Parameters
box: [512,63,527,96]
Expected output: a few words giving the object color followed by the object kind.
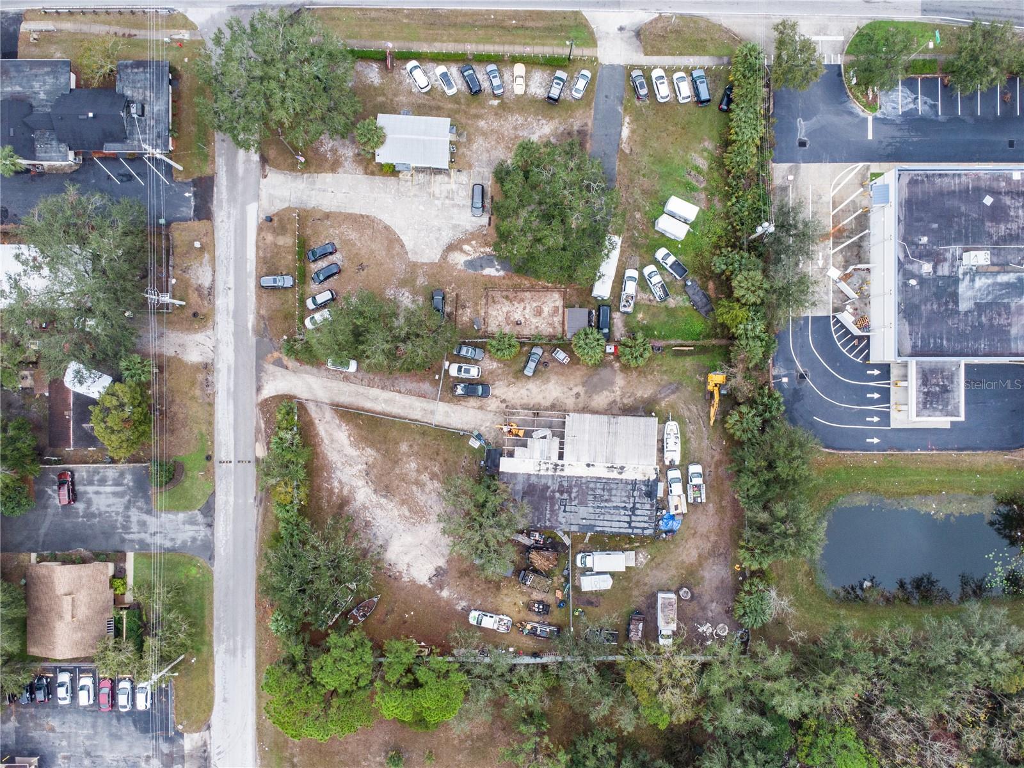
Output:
white car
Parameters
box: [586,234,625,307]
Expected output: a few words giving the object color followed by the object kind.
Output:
white trailer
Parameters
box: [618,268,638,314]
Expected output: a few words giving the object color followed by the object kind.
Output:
white vehicle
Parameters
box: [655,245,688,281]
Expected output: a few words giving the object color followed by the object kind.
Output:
white truck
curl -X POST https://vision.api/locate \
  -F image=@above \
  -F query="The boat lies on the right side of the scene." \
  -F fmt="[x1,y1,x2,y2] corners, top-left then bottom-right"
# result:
[660,414,680,469]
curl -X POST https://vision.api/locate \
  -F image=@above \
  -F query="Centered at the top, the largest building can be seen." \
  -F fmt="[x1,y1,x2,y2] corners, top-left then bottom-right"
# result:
[375,108,457,172]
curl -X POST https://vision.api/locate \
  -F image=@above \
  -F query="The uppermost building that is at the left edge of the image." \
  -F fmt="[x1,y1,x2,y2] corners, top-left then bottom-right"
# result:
[0,58,174,164]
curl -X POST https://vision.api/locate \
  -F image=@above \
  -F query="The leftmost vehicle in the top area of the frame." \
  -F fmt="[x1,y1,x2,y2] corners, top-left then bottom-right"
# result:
[260,273,294,289]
